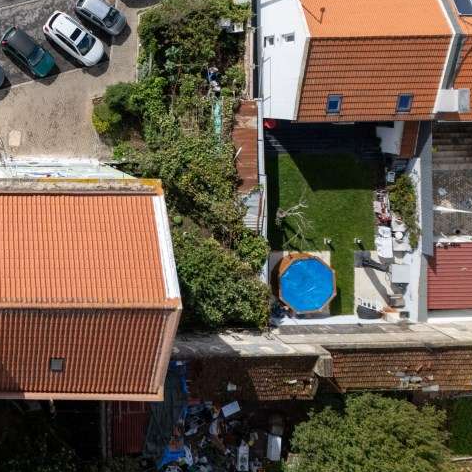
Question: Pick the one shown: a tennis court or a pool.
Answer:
pool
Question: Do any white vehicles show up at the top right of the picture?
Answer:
No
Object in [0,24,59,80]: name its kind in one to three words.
car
